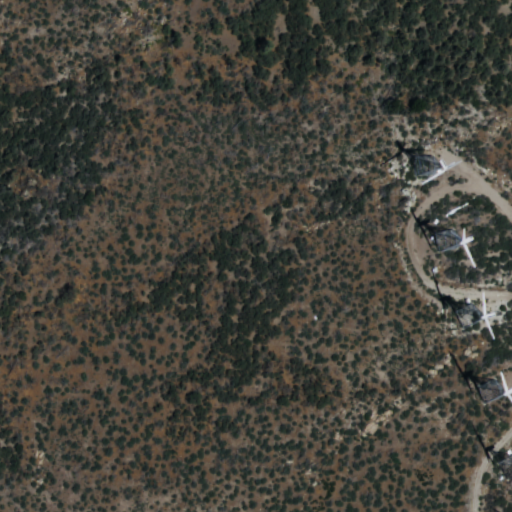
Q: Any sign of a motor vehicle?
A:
No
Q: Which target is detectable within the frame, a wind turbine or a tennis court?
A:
wind turbine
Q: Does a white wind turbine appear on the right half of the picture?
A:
Yes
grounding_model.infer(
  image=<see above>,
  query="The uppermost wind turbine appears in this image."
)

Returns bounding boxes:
[413,154,466,182]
